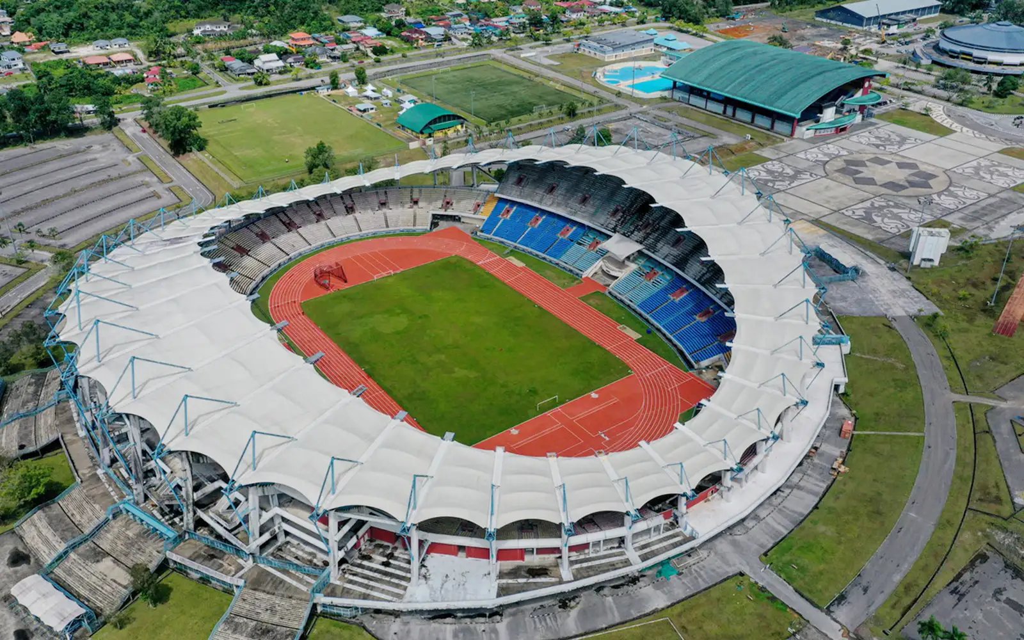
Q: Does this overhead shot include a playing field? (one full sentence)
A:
Yes, the image includes a playing field.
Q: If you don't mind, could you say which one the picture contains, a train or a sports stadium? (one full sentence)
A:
There is a sports stadium in the scene.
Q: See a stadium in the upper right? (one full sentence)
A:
Yes, a stadium can be seen in the upper right.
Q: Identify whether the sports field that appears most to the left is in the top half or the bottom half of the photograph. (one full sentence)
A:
The top half of the photo is where the sports field that appears most to the left is.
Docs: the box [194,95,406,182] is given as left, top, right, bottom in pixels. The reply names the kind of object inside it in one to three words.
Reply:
sports field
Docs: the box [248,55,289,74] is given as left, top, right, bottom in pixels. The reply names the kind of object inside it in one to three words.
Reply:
house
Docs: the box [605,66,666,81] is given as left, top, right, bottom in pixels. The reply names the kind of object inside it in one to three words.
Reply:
swimming pool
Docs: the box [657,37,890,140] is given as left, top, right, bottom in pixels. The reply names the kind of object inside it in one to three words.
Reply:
building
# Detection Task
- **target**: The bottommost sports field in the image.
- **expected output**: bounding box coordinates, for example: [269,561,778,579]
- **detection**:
[302,255,632,448]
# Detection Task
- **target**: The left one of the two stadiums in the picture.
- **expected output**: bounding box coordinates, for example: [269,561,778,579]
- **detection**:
[44,125,862,619]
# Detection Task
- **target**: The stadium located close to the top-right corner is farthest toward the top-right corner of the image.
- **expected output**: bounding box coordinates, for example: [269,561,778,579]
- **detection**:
[893,17,1024,71]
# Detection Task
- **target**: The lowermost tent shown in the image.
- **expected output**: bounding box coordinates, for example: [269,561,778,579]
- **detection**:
[10,572,92,633]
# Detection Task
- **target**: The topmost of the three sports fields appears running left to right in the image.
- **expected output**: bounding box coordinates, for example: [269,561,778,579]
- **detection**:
[403,63,587,123]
